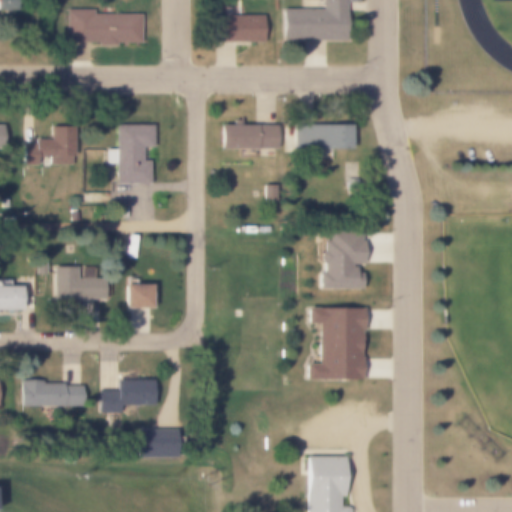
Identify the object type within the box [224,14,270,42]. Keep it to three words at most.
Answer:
house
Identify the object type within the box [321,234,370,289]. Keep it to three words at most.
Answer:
house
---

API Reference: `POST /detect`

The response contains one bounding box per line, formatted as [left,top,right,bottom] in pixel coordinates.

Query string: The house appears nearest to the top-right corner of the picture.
[284,0,355,42]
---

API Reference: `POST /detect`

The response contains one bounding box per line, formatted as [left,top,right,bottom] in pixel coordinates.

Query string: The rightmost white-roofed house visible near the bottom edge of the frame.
[306,456,354,512]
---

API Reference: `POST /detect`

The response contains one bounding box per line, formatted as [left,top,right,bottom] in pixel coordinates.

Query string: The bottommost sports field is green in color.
[442,212,512,442]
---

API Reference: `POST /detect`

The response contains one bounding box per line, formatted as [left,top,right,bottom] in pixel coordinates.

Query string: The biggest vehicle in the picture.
[128,231,141,258]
